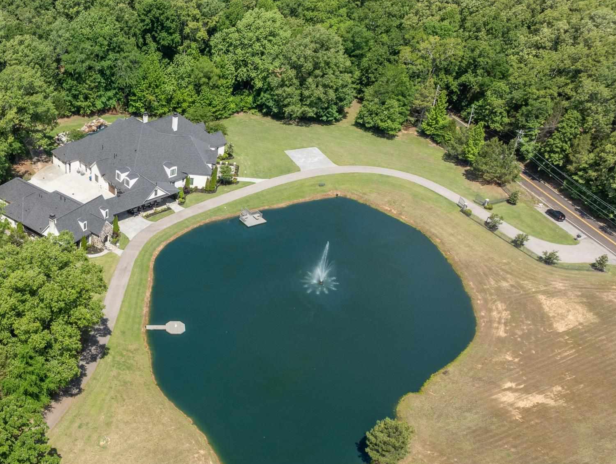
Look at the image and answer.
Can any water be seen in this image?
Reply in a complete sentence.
Yes, water can be seen from above here.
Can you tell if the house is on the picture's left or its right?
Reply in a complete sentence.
It is on the left.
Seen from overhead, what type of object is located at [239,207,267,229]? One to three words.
pier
